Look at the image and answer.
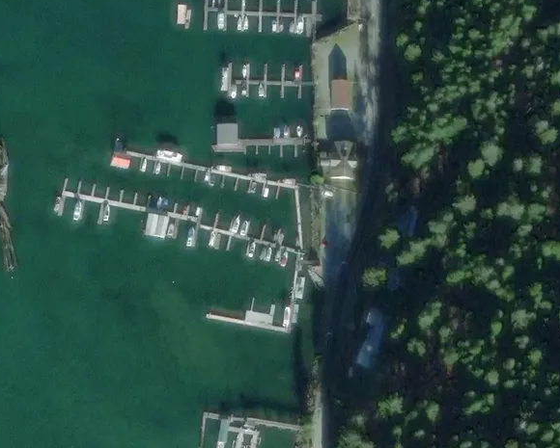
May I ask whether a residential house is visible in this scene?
Yes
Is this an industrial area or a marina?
marina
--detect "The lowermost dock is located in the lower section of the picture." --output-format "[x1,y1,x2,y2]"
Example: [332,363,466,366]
[200,413,298,448]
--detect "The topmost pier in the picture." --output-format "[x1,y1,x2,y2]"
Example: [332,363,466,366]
[203,0,321,40]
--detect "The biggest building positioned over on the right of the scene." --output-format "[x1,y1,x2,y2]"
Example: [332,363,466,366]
[320,139,359,180]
